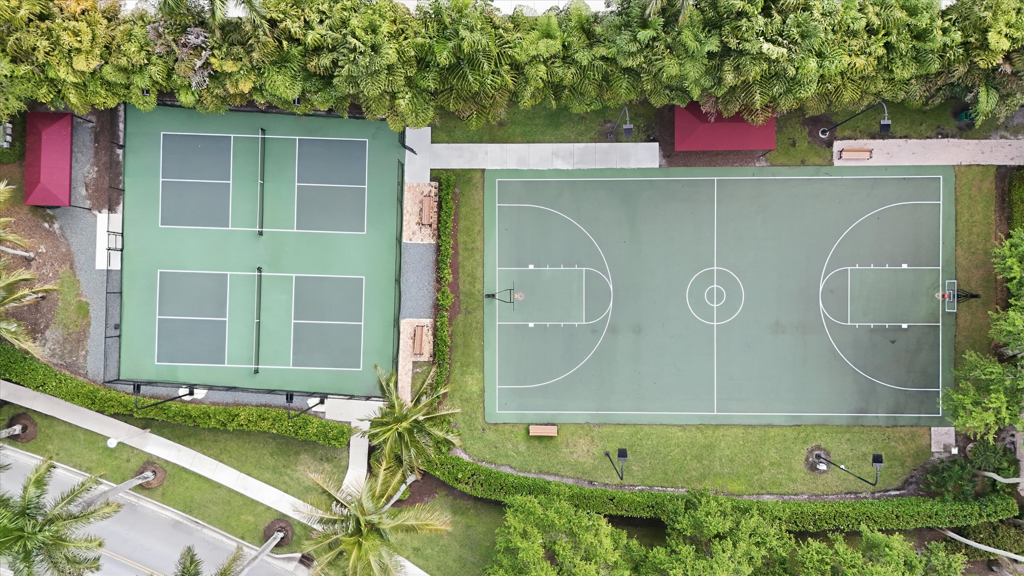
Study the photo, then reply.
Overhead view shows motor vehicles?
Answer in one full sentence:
No, the frame has no motor vehicle in it.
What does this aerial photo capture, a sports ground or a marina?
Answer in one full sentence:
It's a sports ground.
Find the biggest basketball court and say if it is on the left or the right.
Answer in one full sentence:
The biggest basketball court is on the right side of the image.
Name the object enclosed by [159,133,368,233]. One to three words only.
sports court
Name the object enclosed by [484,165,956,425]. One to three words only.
basketball court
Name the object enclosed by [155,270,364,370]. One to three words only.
sports court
